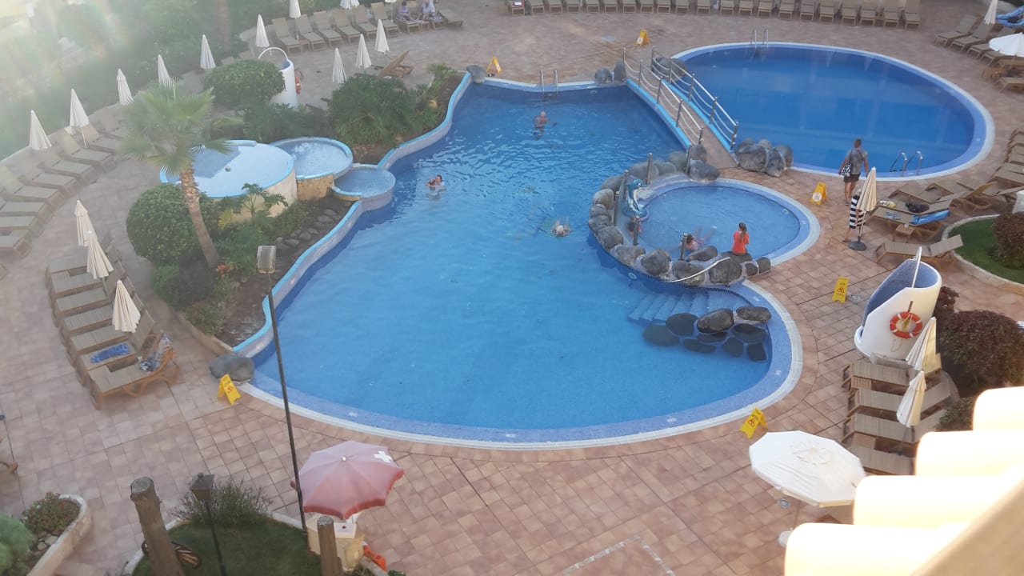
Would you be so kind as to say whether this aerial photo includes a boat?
No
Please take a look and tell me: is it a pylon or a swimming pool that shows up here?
swimming pool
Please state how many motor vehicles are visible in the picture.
0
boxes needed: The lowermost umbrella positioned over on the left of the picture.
[288,436,405,522]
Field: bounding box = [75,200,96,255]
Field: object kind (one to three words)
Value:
umbrella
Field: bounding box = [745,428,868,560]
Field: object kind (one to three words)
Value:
umbrella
